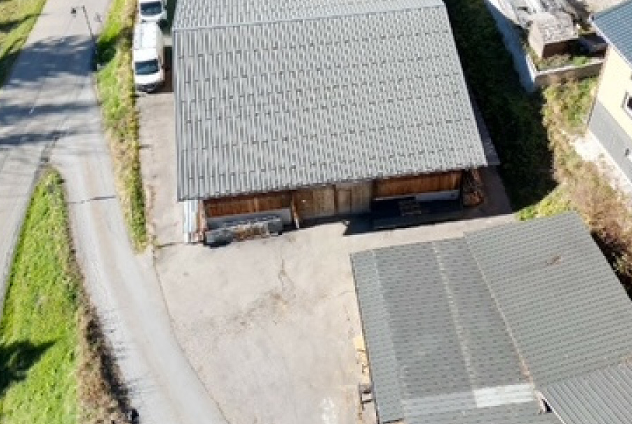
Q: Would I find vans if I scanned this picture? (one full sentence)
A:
Yes, there is a van in the image.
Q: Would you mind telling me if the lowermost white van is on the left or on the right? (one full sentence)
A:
It is on the left.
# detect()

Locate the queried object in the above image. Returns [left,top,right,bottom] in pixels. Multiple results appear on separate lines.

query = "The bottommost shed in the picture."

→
[348,211,632,424]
